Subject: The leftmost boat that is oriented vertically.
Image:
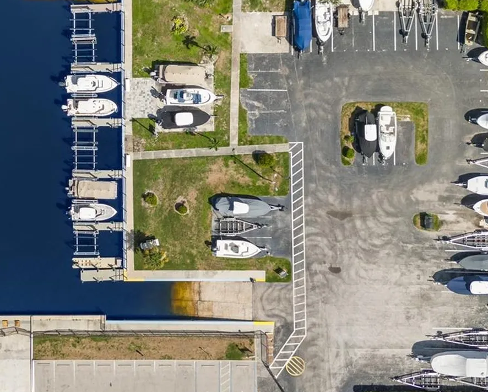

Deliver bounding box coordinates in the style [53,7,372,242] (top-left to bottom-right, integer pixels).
[291,0,310,51]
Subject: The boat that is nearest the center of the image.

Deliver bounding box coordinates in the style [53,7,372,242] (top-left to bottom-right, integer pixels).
[209,195,271,216]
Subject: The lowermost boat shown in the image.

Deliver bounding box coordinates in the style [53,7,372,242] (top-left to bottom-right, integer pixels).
[429,351,488,375]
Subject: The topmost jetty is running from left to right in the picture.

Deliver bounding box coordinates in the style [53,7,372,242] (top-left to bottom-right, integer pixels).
[70,2,121,14]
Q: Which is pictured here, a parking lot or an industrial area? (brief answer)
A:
parking lot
